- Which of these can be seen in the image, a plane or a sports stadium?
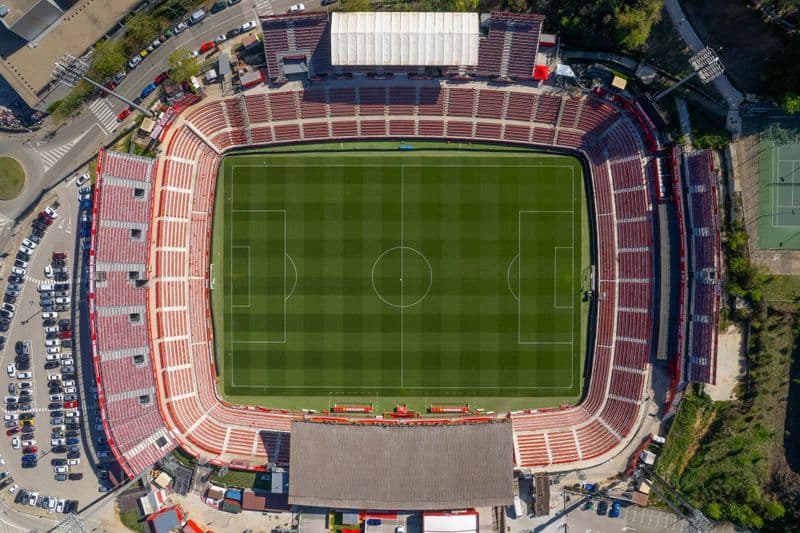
sports stadium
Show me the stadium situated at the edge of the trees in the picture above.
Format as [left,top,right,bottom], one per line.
[91,7,722,510]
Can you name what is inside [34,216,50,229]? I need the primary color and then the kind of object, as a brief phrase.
black vehicle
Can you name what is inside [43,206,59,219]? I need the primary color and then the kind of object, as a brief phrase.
white vehicle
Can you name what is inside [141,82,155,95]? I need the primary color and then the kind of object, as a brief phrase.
blue vehicle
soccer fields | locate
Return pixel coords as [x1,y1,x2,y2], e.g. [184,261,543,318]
[212,138,595,417]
